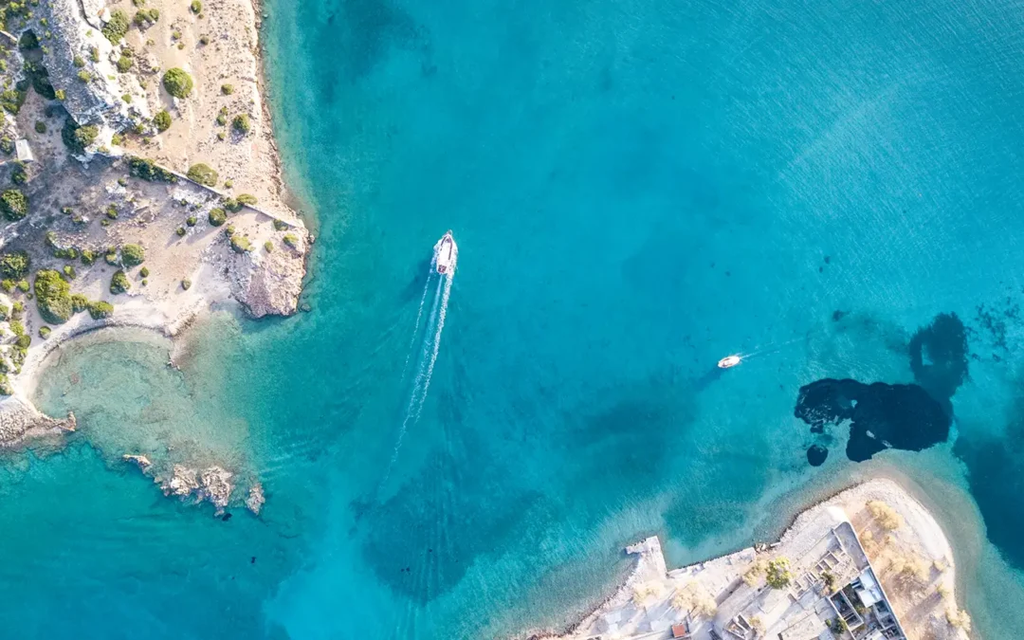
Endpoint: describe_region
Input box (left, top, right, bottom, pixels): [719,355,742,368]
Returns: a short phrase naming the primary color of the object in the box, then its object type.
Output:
white boat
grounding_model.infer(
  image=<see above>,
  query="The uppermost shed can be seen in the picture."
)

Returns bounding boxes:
[16,139,37,161]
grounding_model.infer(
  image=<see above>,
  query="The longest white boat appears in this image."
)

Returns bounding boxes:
[435,227,453,276]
